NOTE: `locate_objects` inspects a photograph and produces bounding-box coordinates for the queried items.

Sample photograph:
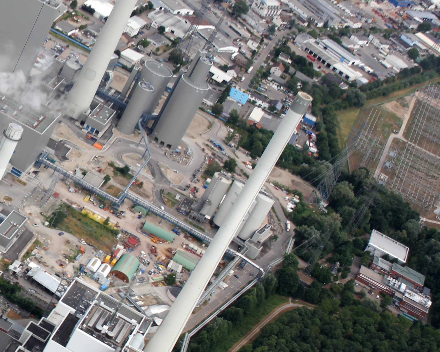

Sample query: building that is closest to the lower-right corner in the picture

[395,285,437,315]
